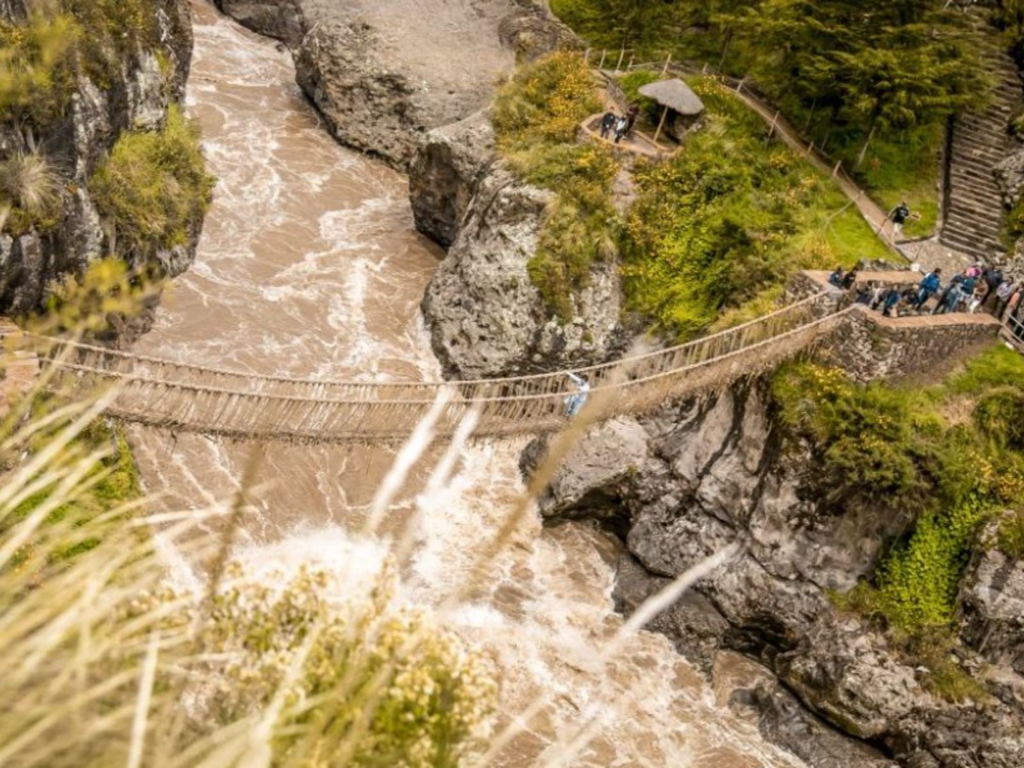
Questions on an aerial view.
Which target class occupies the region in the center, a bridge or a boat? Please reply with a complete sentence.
It is a bridge that can be seen in the center.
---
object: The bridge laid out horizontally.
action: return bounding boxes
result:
[21,286,863,463]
